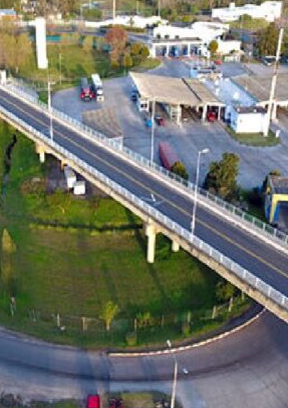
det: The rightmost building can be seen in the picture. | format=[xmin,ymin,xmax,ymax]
[263,0,286,23]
